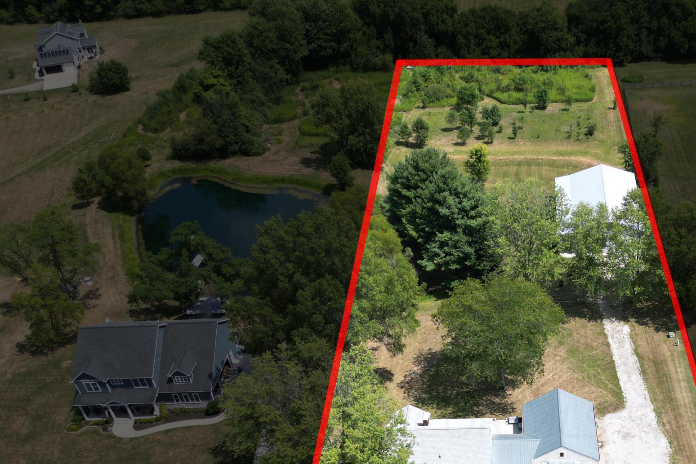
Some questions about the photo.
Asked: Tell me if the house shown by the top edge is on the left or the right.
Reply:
left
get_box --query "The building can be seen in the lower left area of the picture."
[64,314,247,426]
